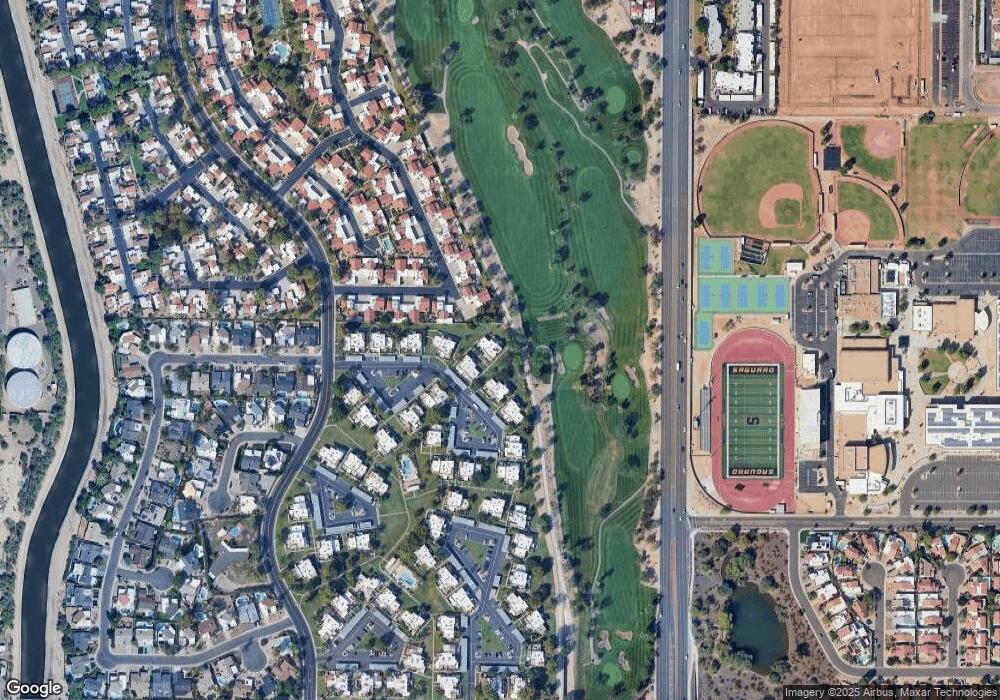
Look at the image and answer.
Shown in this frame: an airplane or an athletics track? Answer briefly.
athletics track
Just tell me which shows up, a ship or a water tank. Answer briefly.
water tank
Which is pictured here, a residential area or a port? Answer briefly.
residential area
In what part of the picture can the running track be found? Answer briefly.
right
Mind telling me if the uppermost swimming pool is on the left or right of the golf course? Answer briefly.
to the left of it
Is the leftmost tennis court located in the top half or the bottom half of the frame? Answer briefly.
top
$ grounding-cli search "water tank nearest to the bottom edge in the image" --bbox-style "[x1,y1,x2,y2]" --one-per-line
[5,372,42,407]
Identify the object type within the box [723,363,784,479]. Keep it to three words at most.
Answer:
sports field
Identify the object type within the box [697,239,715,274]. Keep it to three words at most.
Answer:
tennis court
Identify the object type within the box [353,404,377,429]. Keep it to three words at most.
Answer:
building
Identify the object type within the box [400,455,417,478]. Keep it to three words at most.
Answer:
swimming pool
